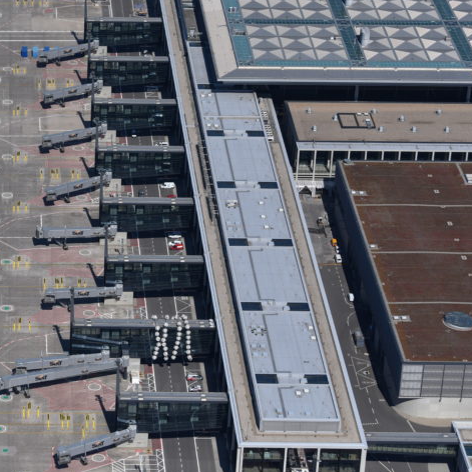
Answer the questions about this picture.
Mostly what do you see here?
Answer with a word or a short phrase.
buildings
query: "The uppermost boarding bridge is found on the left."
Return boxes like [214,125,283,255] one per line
[32,38,103,70]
